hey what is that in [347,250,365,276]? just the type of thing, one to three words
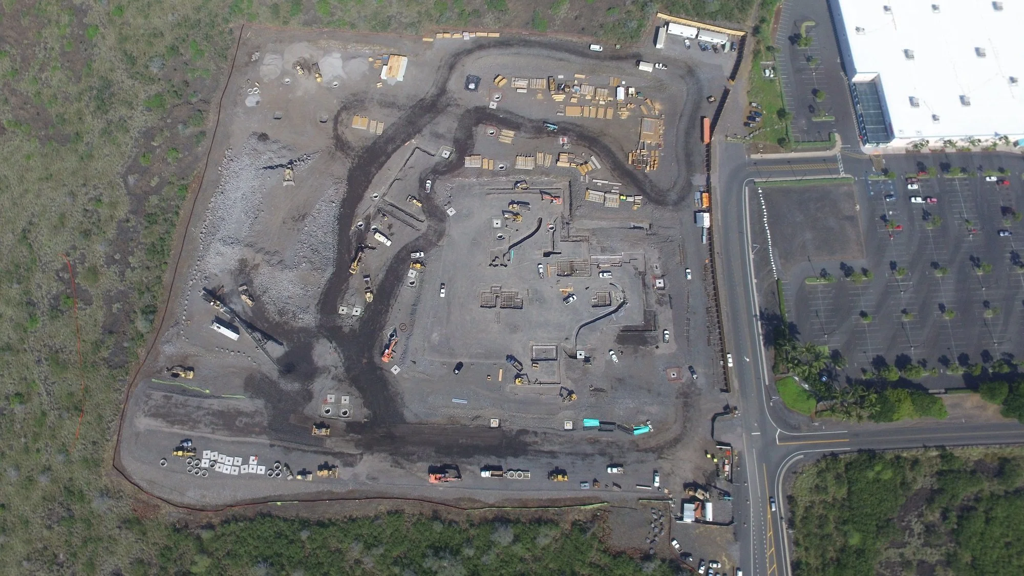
work vehicle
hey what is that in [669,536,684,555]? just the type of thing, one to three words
vehicle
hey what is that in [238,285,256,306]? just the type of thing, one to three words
work vehicle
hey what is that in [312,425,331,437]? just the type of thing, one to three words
vehicle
